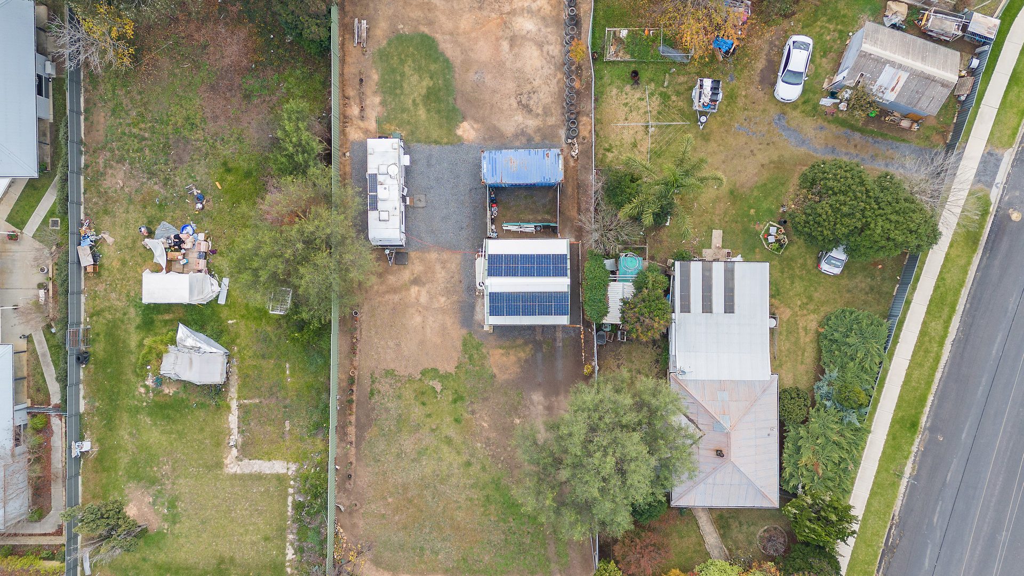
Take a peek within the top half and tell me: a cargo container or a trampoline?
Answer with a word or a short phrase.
cargo container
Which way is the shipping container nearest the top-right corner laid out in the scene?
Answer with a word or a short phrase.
horizontally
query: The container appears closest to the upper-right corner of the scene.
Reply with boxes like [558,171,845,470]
[480,148,565,189]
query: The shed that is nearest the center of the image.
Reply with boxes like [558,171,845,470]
[480,237,572,326]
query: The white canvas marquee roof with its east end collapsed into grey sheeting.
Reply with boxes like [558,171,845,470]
[128,273,220,305]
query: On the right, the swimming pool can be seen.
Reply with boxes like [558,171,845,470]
[618,253,642,282]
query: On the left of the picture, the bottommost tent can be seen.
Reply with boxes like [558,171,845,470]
[160,321,229,394]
